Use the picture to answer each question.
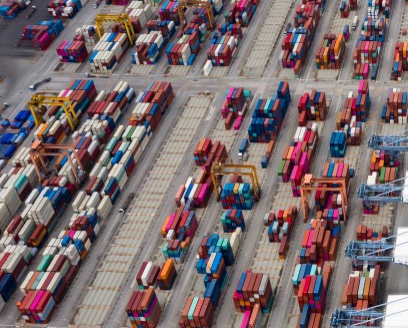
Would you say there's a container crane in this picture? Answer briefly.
Yes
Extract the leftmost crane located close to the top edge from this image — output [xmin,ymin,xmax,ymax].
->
[93,4,135,40]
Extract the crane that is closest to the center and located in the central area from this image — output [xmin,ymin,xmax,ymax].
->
[209,153,260,200]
